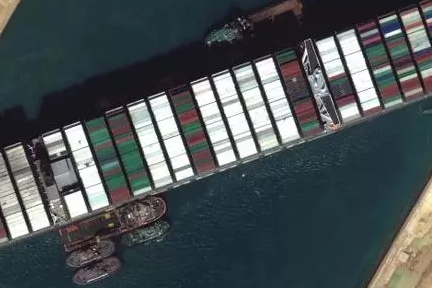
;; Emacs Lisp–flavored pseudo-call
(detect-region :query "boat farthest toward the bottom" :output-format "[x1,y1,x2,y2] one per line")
[71,258,122,284]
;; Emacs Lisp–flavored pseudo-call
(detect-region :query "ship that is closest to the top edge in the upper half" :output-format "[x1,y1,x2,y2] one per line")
[246,0,307,25]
